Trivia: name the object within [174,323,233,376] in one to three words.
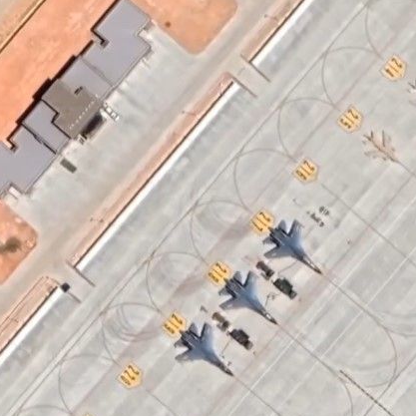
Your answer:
airplane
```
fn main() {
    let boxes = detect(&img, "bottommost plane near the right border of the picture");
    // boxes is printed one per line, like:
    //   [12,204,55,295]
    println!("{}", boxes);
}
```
[360,127,397,161]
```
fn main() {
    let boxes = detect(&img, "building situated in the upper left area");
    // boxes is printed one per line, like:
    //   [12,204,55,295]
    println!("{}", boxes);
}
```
[0,0,151,199]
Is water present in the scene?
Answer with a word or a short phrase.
No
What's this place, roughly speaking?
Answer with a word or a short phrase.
airport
